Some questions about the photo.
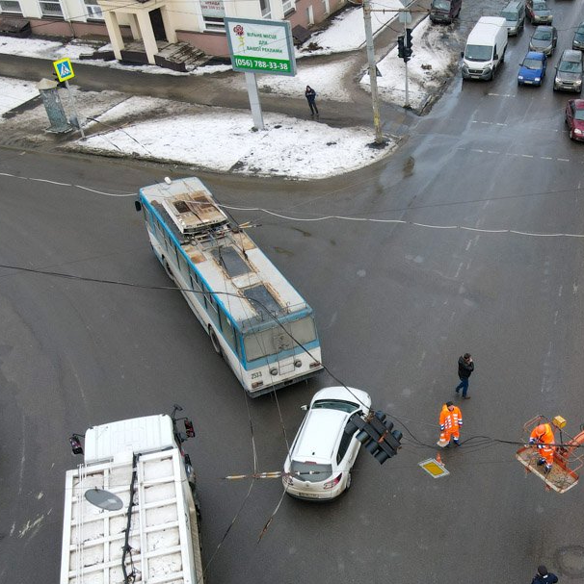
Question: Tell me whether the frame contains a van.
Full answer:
Yes, this view includes a van.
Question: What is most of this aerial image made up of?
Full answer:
The largest share of the image is taken up by paved ground.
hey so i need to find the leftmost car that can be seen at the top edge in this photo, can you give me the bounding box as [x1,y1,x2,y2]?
[431,0,461,22]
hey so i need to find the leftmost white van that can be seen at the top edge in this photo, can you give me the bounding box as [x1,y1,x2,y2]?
[464,17,510,80]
